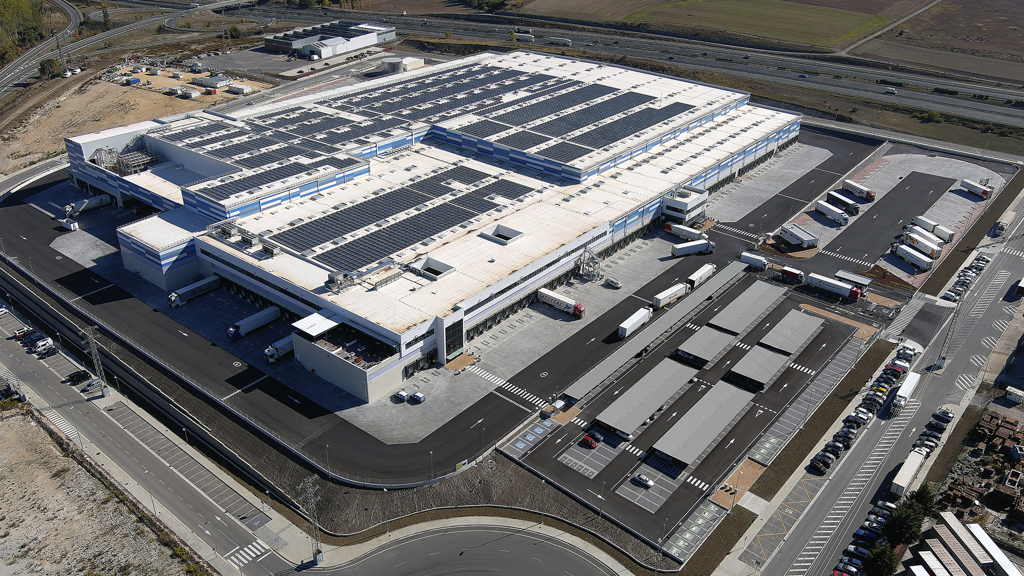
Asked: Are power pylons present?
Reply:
Yes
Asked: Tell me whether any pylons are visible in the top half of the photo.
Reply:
Yes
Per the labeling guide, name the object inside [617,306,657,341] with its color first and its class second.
white truck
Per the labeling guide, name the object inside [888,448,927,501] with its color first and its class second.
white truck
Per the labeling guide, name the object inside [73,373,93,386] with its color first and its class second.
black vehicle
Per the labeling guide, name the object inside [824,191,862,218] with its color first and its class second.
black truck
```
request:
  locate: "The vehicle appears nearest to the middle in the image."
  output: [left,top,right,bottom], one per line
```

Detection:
[536,288,587,322]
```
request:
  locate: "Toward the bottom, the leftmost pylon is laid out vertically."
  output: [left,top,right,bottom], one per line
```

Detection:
[74,301,117,398]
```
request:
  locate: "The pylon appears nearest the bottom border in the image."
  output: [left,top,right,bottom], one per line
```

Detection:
[291,462,329,568]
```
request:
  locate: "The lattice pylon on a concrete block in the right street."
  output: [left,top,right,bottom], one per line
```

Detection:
[929,274,976,371]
